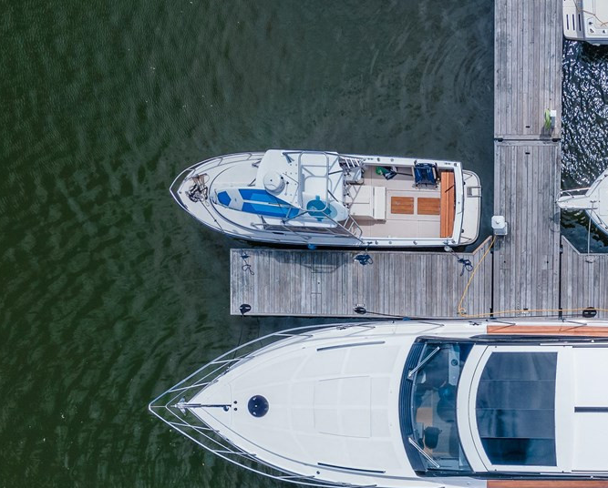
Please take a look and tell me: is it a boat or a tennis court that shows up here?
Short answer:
boat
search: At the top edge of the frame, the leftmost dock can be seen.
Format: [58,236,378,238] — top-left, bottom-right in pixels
[495,0,561,141]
